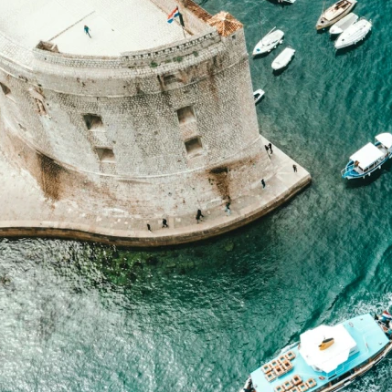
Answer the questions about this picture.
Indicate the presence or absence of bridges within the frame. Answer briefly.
No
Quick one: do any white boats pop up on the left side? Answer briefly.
No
